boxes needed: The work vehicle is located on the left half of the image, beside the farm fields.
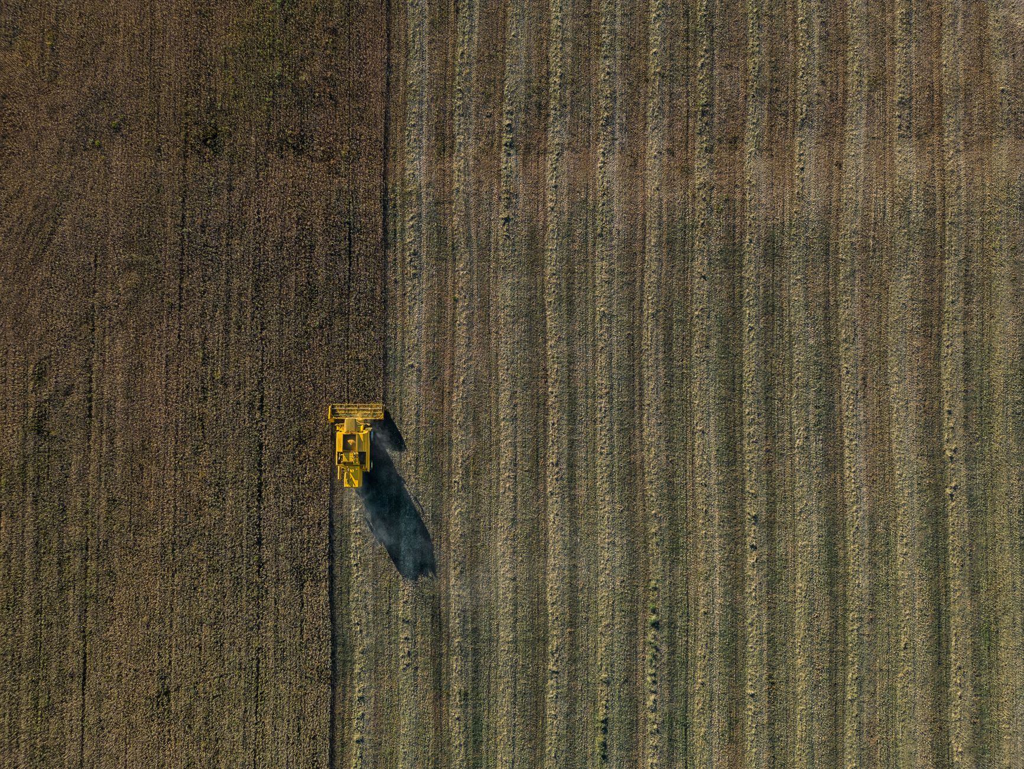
[329,400,386,487]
